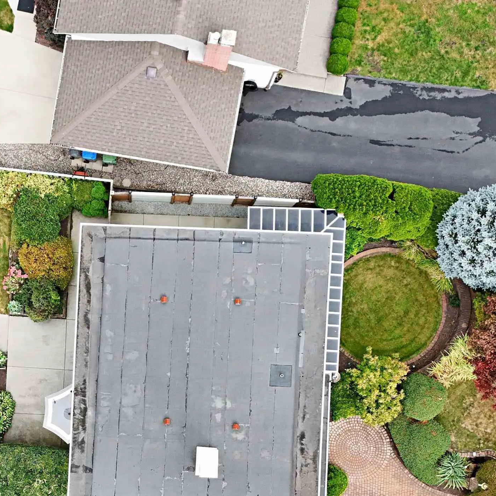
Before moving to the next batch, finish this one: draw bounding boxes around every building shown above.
[66,223,333,496]
[46,0,311,178]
